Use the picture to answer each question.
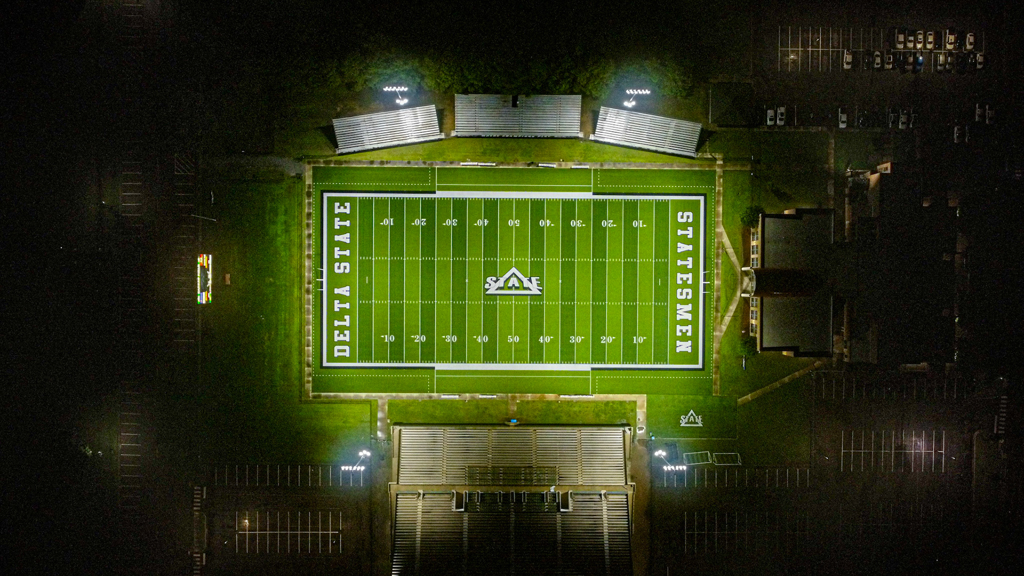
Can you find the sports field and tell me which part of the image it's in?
center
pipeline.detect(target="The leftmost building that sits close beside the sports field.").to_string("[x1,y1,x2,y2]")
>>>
[739,208,833,358]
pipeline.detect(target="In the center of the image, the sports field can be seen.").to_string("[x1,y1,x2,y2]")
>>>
[312,168,716,395]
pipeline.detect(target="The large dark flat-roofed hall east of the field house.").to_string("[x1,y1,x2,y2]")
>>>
[841,163,962,373]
